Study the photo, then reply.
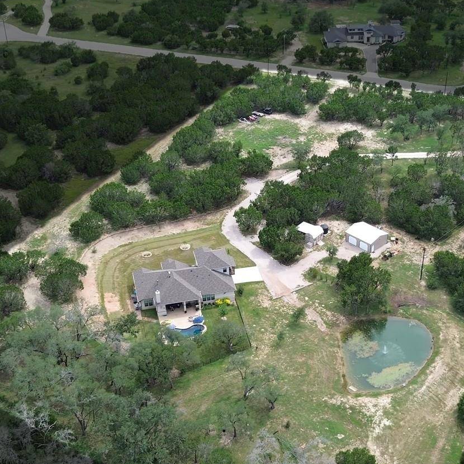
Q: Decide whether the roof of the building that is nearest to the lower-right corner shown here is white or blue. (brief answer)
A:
white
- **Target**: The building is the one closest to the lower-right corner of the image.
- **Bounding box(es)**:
[345,219,388,253]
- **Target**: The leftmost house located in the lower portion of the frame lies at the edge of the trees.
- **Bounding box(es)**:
[134,245,237,316]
